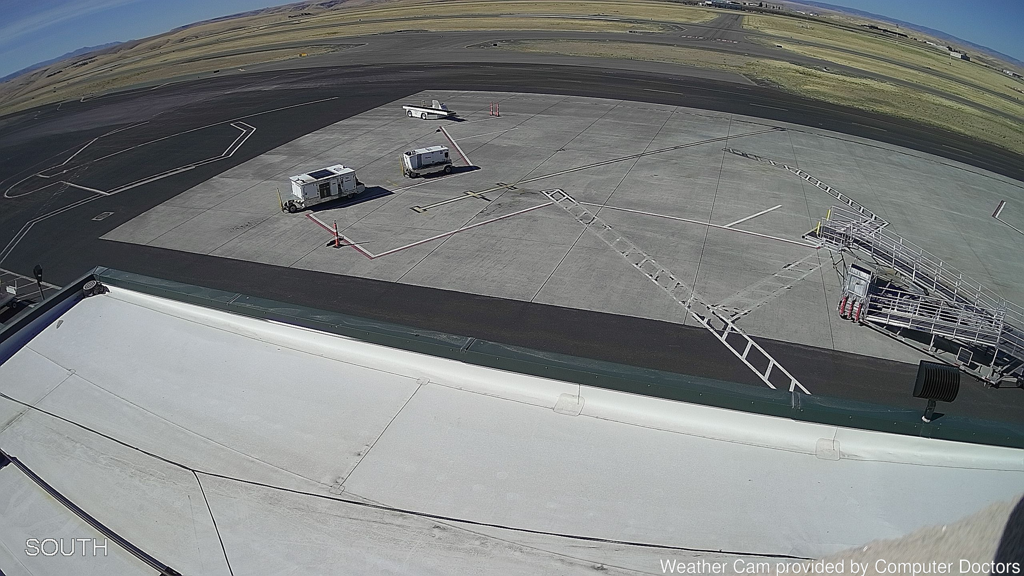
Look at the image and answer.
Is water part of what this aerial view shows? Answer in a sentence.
No, the scene doesn't show any water.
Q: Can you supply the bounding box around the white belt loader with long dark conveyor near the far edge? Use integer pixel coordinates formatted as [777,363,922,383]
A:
[402,99,457,120]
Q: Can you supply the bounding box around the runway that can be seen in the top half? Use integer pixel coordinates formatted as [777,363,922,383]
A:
[3,14,1024,105]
